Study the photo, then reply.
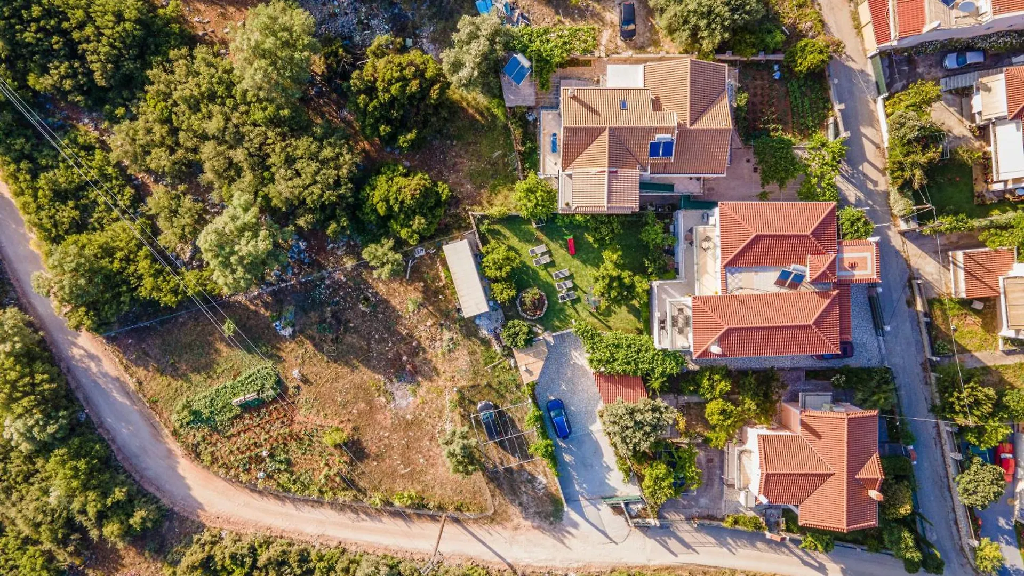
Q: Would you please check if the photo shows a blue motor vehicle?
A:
Yes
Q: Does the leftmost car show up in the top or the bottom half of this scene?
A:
bottom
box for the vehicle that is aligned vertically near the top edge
[618,0,639,45]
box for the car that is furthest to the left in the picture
[478,399,503,445]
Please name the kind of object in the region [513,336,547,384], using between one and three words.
shed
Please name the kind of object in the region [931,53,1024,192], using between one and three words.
house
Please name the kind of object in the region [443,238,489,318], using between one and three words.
shed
